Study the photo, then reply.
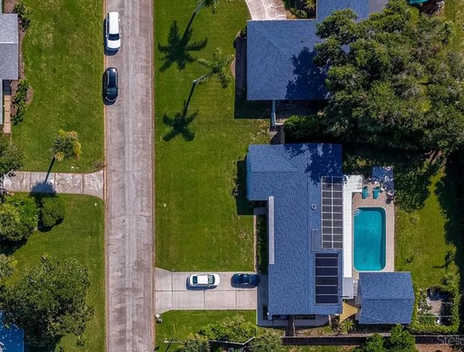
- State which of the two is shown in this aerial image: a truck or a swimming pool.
swimming pool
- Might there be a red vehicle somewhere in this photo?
No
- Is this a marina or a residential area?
residential area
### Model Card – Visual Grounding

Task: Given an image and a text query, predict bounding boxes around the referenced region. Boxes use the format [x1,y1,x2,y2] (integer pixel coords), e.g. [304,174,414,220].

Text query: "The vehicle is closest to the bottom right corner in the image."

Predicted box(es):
[230,272,259,287]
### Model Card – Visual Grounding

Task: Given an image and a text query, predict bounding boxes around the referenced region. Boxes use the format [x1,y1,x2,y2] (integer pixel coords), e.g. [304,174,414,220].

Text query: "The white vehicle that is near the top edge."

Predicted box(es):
[104,13,121,52]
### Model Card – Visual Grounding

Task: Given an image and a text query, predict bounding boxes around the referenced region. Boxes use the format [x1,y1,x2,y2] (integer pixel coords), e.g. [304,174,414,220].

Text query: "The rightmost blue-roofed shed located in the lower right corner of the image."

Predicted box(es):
[352,272,415,324]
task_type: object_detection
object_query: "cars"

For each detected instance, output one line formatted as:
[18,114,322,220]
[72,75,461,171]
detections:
[186,273,219,288]
[103,67,120,103]
[230,272,259,287]
[104,13,121,52]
